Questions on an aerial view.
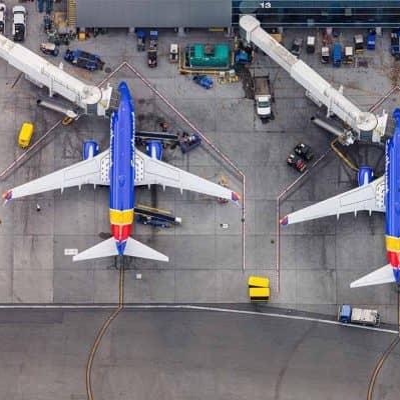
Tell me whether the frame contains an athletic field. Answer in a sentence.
No, I find no athletic field anywhere in the image.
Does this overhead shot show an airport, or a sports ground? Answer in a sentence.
This image shows an airport.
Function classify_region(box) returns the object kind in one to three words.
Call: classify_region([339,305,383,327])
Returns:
truck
